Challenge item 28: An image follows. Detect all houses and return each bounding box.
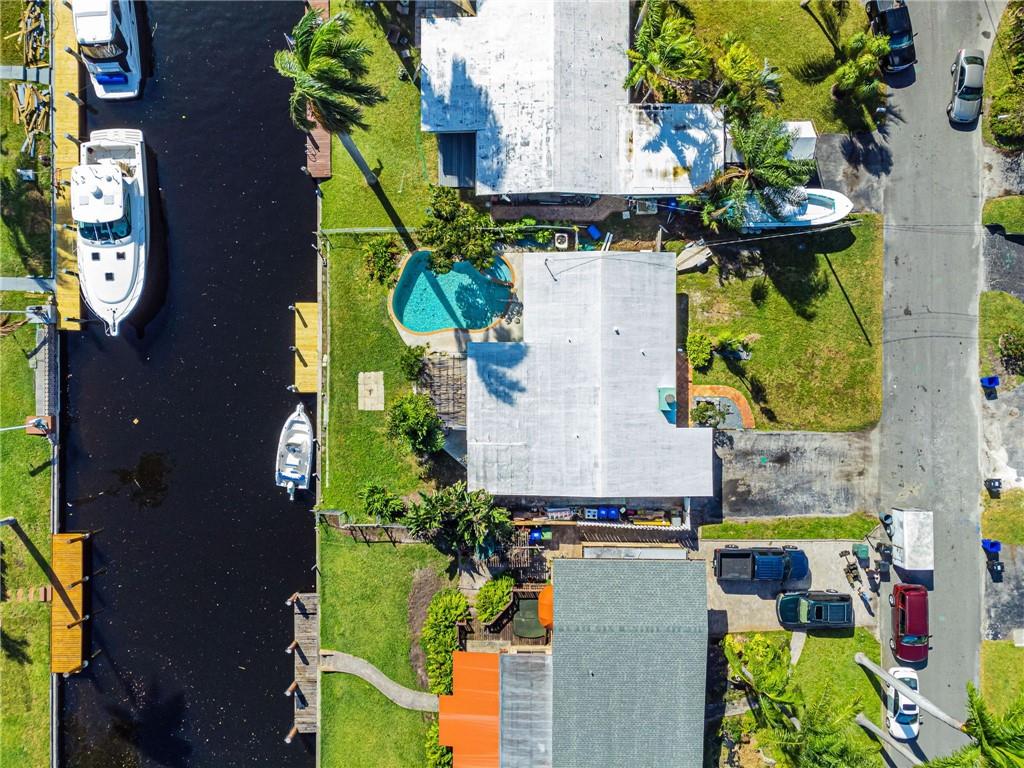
[551,541,709,768]
[467,251,713,498]
[421,0,725,205]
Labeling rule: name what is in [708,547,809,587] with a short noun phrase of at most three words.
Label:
truck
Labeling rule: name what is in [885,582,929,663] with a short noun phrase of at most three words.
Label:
car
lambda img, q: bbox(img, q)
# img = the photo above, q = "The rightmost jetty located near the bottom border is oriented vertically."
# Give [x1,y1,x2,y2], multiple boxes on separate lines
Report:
[293,592,318,733]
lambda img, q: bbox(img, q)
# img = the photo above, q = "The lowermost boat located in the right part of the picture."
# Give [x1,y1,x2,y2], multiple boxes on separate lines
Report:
[676,232,720,277]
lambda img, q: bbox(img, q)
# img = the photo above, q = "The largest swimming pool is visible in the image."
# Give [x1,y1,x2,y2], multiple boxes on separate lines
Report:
[388,248,518,335]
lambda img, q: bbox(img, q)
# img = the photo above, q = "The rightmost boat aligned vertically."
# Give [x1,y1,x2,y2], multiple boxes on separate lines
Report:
[277,402,315,501]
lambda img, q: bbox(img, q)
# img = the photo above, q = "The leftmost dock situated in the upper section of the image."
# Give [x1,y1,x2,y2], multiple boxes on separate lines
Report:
[55,0,88,330]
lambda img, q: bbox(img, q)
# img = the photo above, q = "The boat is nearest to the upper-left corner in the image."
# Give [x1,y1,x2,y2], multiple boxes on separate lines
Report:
[64,0,145,104]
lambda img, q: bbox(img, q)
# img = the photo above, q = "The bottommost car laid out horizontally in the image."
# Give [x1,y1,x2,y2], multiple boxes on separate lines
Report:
[773,592,855,632]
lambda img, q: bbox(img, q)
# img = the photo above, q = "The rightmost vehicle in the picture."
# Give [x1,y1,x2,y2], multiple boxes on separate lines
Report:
[943,47,986,127]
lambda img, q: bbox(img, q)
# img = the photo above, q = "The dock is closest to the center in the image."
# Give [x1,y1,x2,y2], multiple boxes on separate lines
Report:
[295,303,317,392]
